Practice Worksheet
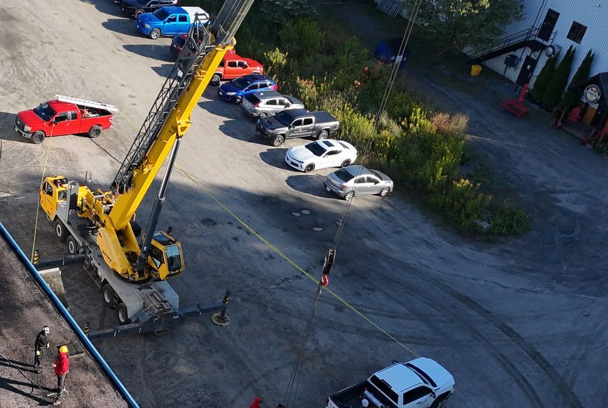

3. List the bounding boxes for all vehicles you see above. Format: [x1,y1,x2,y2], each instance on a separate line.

[320,354,459,408]
[319,163,397,199]
[8,93,119,143]
[280,136,362,172]
[249,103,341,146]
[131,2,212,39]
[238,82,307,115]
[212,47,266,84]
[117,0,181,14]
[212,70,276,104]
